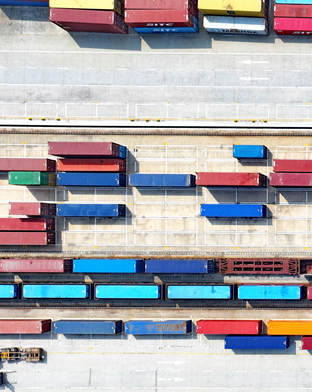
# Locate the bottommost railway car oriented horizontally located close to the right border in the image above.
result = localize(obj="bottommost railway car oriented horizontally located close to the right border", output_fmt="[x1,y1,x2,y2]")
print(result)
[237,284,308,299]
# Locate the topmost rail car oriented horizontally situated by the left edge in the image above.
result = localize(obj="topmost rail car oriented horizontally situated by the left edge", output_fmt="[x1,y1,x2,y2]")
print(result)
[5,258,74,273]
